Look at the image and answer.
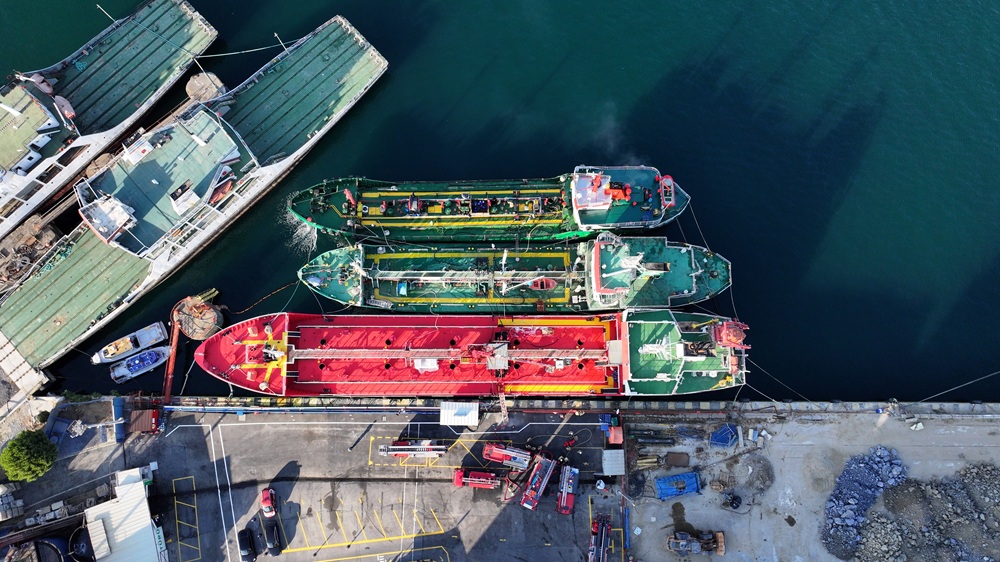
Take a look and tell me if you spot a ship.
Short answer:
Yes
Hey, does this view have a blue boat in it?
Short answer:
Yes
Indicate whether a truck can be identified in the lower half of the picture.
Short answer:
Yes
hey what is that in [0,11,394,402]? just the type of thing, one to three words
ship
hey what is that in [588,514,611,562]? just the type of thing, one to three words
truck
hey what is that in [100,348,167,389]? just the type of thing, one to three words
boat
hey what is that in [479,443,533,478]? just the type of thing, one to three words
truck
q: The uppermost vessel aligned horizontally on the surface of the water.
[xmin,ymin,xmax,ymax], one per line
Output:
[288,160,691,262]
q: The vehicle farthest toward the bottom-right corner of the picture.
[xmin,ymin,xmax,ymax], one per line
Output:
[669,530,727,560]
